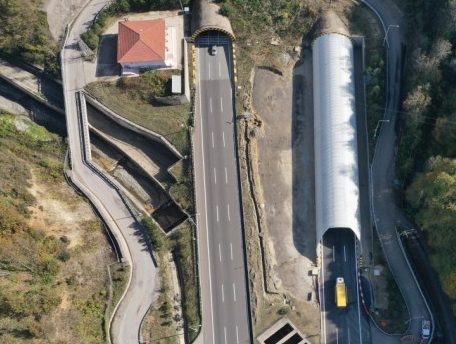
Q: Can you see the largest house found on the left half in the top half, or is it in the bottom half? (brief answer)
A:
top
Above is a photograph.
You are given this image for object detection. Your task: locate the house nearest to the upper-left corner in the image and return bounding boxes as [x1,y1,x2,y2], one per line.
[118,19,177,78]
